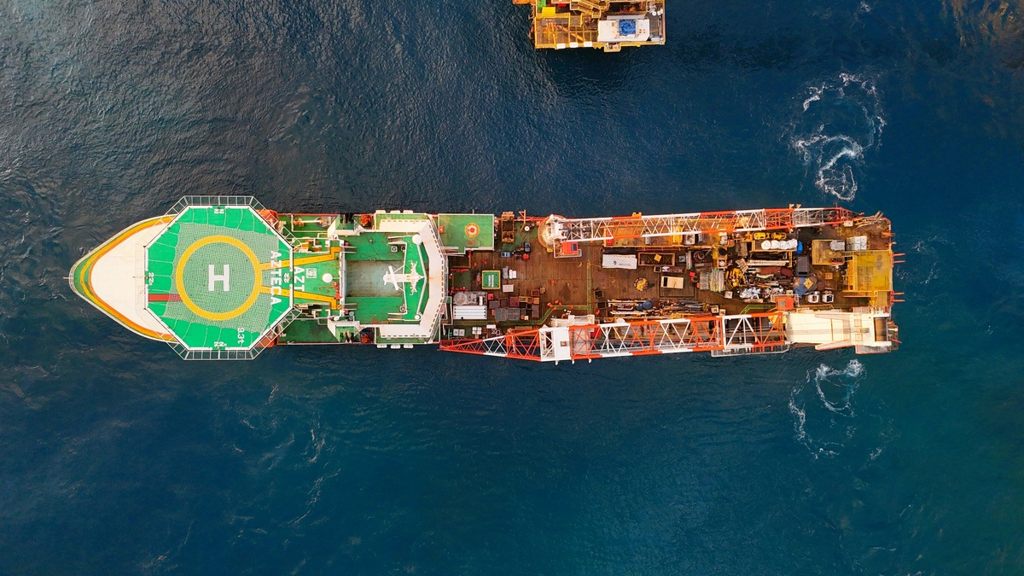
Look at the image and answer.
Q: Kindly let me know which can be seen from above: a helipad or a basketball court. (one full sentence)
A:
Of the two, only a helipad appears.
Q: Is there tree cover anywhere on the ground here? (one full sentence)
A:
No, there is no tree cover in the image.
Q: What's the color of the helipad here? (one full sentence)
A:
From above, the helipad appears green.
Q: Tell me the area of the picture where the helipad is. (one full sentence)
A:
The helipad sits in the left section of the image.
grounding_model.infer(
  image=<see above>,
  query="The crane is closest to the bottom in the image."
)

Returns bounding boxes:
[437,295,892,364]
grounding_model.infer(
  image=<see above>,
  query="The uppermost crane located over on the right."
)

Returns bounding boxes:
[533,203,866,257]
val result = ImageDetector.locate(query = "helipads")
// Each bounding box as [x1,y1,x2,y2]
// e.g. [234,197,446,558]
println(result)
[134,196,302,360]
